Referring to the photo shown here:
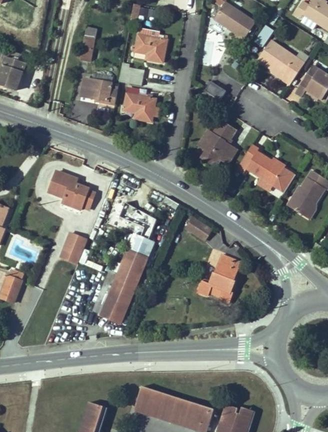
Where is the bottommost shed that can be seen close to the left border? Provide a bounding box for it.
[0,270,24,303]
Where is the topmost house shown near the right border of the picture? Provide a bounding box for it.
[298,0,328,32]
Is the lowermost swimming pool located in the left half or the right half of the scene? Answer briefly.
left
